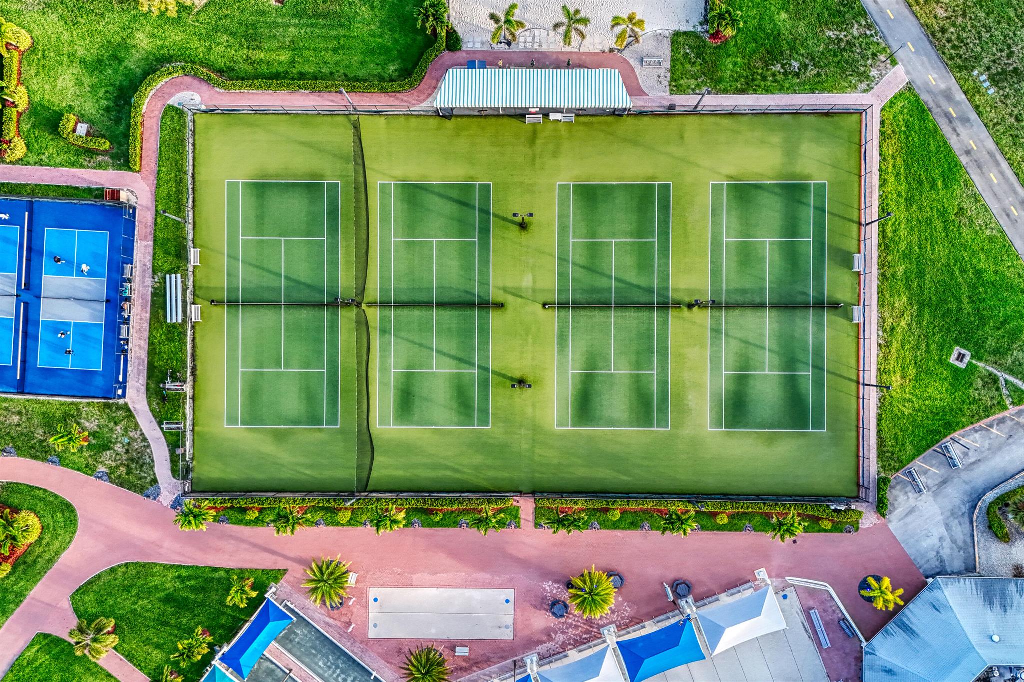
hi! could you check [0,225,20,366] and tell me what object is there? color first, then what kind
blue sports court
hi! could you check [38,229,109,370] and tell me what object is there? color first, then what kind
blue sports court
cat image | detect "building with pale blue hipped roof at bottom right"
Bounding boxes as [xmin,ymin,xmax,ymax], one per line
[863,576,1024,682]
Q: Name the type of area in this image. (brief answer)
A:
sports ground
